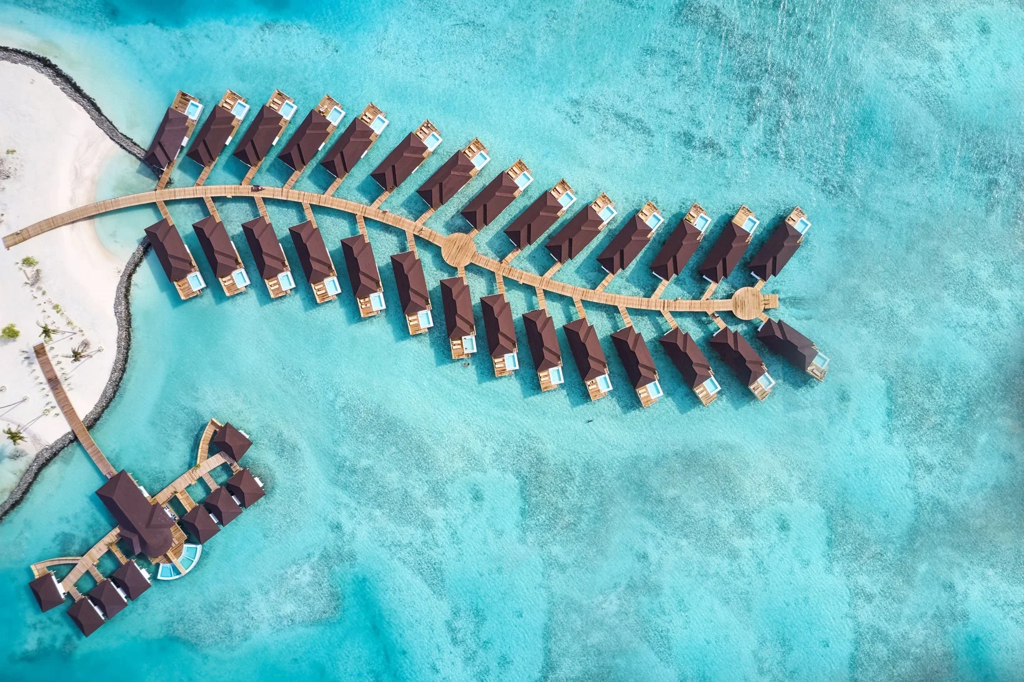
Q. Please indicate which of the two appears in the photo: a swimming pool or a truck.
swimming pool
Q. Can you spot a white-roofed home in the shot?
No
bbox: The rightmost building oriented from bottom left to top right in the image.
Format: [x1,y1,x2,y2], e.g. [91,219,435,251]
[745,205,808,281]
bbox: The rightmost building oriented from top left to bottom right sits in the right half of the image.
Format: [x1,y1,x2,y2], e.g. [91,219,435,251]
[754,318,828,385]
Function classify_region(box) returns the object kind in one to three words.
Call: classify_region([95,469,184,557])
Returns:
building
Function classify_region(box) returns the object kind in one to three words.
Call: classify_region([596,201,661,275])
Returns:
house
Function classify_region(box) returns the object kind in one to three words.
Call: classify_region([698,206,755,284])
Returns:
house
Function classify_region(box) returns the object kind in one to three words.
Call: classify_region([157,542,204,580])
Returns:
swimming pool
